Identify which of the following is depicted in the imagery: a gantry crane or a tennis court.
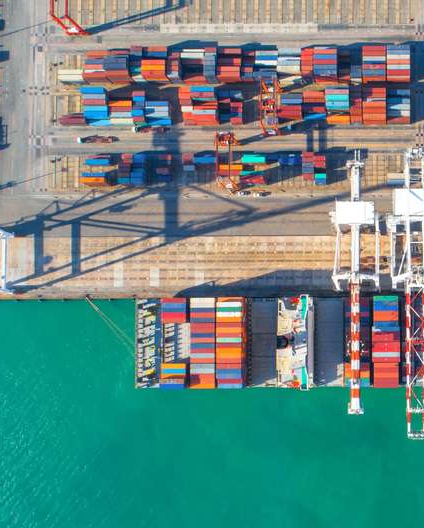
gantry crane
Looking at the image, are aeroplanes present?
No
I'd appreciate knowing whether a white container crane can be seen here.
Yes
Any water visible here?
Yes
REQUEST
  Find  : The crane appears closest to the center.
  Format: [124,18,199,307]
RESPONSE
[214,130,245,192]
